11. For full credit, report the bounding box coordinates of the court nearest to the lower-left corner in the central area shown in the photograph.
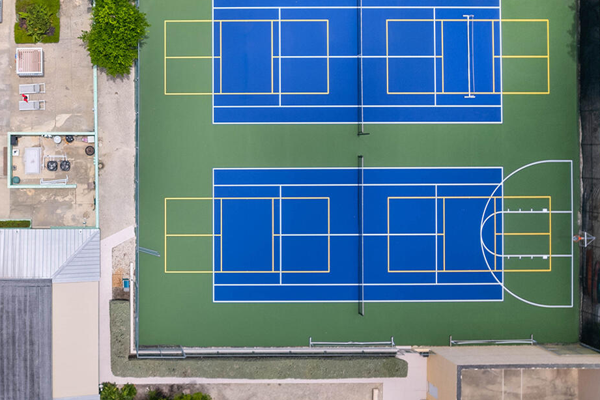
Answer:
[165,197,330,273]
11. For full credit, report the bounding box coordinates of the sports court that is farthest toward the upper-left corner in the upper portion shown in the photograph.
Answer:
[165,19,330,94]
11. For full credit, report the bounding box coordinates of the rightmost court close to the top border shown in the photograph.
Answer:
[387,19,550,94]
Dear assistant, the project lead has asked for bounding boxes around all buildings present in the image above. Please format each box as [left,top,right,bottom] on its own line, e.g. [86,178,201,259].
[428,348,600,400]
[0,228,101,400]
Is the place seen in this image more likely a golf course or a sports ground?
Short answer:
sports ground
